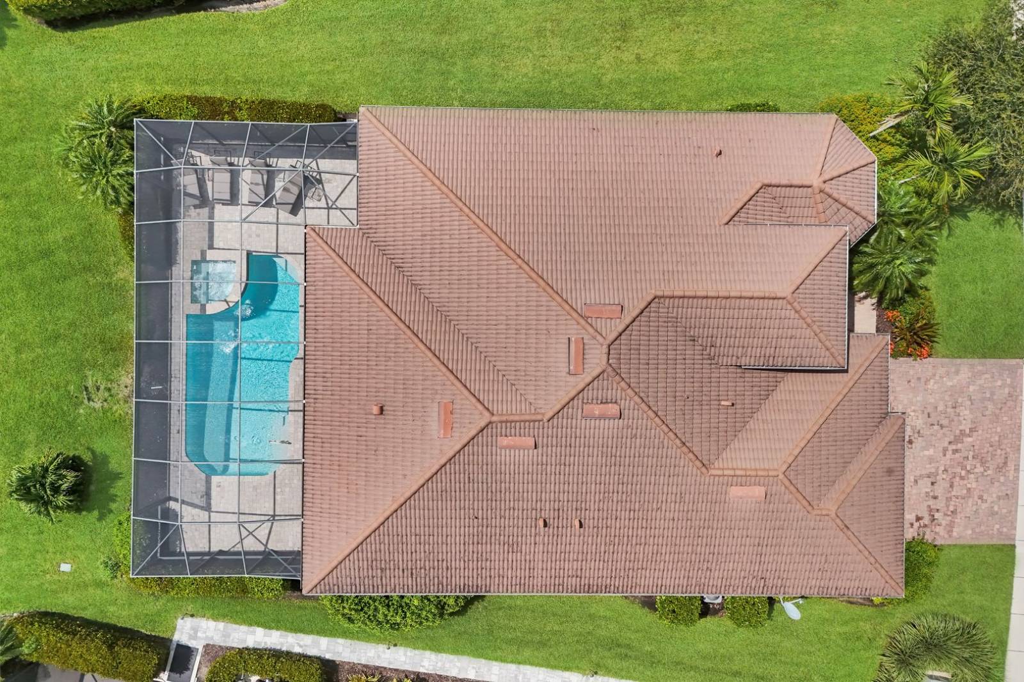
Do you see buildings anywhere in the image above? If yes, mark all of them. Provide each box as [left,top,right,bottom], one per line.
[301,106,905,599]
